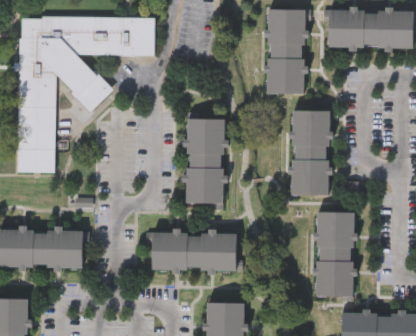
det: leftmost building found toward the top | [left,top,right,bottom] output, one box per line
[14,16,156,174]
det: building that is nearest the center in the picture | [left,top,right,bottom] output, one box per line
[184,118,229,209]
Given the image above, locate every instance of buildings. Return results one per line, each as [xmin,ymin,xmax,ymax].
[184,118,229,209]
[0,226,90,270]
[0,298,32,336]
[14,16,156,174]
[289,109,334,195]
[151,228,243,274]
[265,7,312,93]
[326,6,416,51]
[314,211,359,300]
[76,194,95,208]
[204,302,249,336]
[342,310,416,336]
